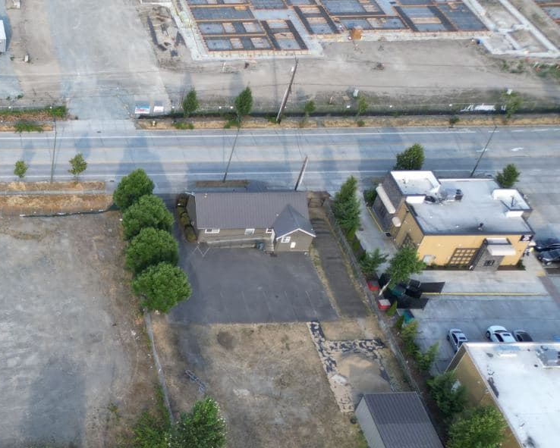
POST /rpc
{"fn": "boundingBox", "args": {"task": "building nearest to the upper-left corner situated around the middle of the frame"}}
[190,188,319,251]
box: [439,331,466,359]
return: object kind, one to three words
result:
car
